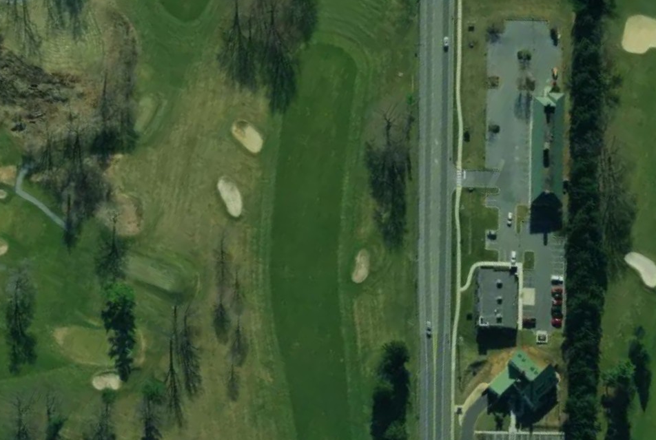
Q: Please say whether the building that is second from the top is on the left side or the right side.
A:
right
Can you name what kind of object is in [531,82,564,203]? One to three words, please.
building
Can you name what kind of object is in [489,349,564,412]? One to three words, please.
building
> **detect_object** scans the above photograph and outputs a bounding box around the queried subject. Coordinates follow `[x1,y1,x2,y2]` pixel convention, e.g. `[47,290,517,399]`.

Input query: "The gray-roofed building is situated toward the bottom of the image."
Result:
[478,270,518,328]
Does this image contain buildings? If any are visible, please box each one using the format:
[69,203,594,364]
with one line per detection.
[531,82,564,203]
[489,349,564,412]
[478,270,518,328]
